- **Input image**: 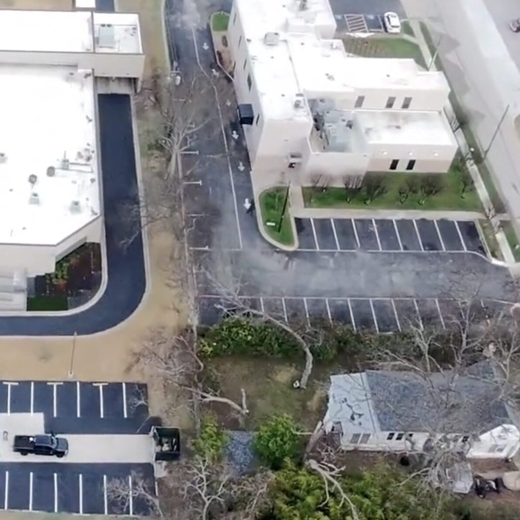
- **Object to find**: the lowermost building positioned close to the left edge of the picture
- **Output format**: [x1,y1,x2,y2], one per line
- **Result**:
[0,7,145,275]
